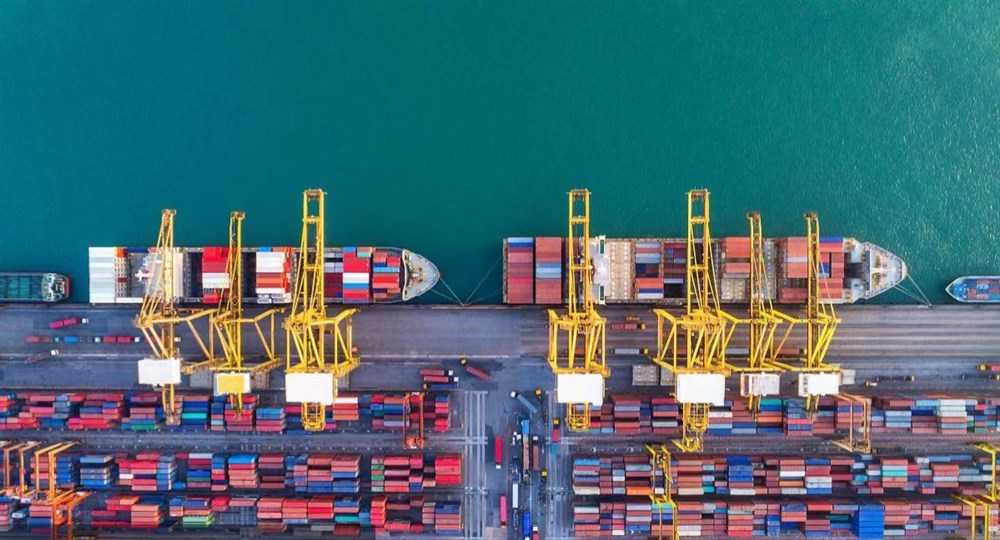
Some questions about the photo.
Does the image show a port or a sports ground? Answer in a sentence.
What you see here is a port.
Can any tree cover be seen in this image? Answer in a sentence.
No, the picture contains no tree cover.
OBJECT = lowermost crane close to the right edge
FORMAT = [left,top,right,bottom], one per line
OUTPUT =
[949,493,991,540]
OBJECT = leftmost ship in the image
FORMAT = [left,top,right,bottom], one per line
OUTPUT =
[0,272,73,304]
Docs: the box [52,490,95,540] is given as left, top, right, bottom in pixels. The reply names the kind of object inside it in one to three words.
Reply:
crane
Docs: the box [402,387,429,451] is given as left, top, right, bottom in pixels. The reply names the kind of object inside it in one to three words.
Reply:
crane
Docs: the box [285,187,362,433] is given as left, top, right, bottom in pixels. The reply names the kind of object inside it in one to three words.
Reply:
container crane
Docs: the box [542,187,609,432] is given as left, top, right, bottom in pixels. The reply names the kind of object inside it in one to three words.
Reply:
container crane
